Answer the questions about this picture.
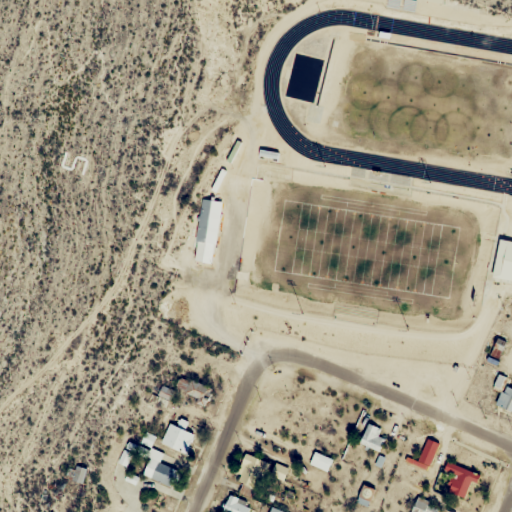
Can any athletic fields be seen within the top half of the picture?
Yes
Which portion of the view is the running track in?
top right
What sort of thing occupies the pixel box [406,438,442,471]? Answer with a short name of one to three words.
house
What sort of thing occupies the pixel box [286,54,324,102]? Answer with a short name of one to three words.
sports court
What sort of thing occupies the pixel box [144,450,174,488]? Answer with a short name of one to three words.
house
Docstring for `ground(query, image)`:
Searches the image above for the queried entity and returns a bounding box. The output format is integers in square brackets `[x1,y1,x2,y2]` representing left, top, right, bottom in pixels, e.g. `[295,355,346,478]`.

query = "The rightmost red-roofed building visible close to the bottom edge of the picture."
[446,464,480,499]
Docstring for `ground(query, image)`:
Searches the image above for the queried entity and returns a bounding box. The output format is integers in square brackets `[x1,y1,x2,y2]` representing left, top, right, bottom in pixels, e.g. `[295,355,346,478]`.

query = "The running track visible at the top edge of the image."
[264,10,512,194]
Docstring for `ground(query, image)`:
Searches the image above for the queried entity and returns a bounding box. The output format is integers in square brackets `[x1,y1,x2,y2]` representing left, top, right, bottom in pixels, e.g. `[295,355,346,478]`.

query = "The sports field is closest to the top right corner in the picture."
[280,27,512,178]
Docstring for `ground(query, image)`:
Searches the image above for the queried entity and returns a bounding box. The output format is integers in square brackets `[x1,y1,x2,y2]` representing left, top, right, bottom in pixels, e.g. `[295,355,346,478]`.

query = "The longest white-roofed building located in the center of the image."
[194,200,222,264]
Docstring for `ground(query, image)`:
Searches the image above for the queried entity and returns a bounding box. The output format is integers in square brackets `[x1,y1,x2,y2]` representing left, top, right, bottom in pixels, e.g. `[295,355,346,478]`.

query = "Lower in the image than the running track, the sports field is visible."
[249,181,484,322]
